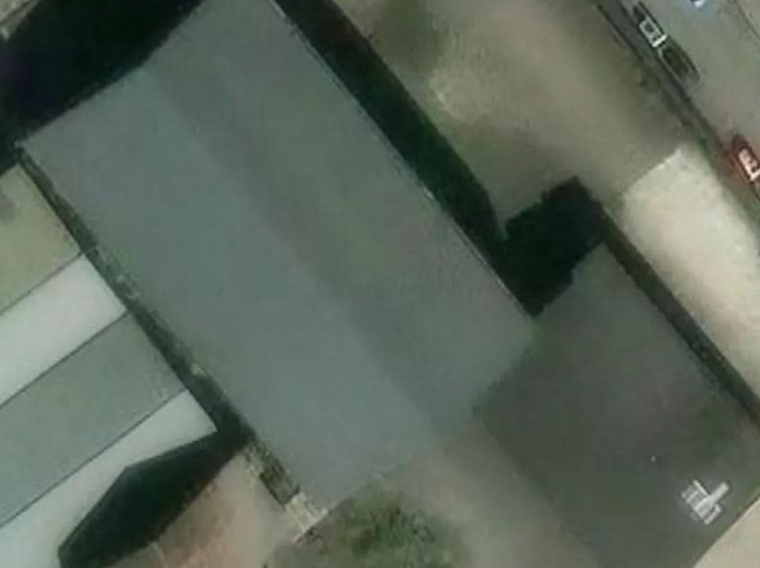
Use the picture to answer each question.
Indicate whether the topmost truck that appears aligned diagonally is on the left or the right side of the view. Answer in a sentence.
You can find the topmost truck that appears aligned diagonally on the right side of the picture.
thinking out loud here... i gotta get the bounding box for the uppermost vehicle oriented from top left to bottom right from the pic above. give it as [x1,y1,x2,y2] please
[633,4,677,53]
